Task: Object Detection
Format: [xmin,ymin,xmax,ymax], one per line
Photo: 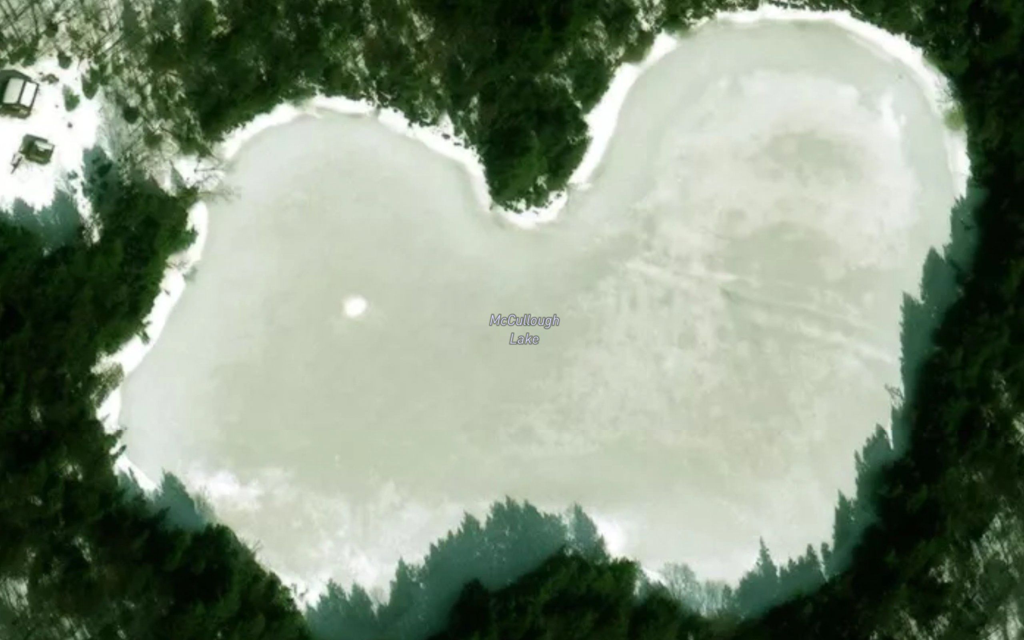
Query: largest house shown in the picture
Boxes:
[2,77,38,119]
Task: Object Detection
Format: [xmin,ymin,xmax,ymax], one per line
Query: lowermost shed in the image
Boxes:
[28,140,55,163]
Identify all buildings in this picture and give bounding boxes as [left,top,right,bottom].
[2,77,38,119]
[28,140,55,163]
